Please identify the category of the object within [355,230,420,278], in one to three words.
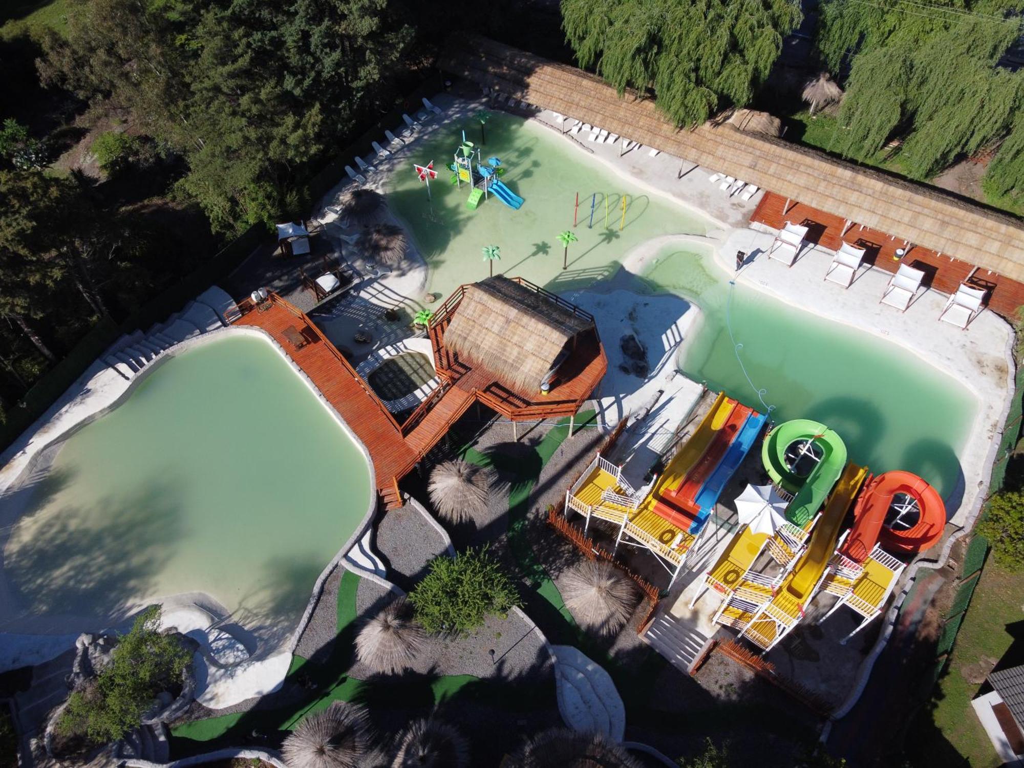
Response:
umbrella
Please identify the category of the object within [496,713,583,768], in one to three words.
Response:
umbrella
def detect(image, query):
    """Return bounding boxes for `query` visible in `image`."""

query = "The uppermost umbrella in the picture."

[789,74,843,119]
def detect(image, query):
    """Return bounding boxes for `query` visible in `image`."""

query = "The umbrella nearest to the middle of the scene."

[425,457,500,520]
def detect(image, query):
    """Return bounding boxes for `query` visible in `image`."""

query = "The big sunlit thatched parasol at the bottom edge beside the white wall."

[282,701,381,768]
